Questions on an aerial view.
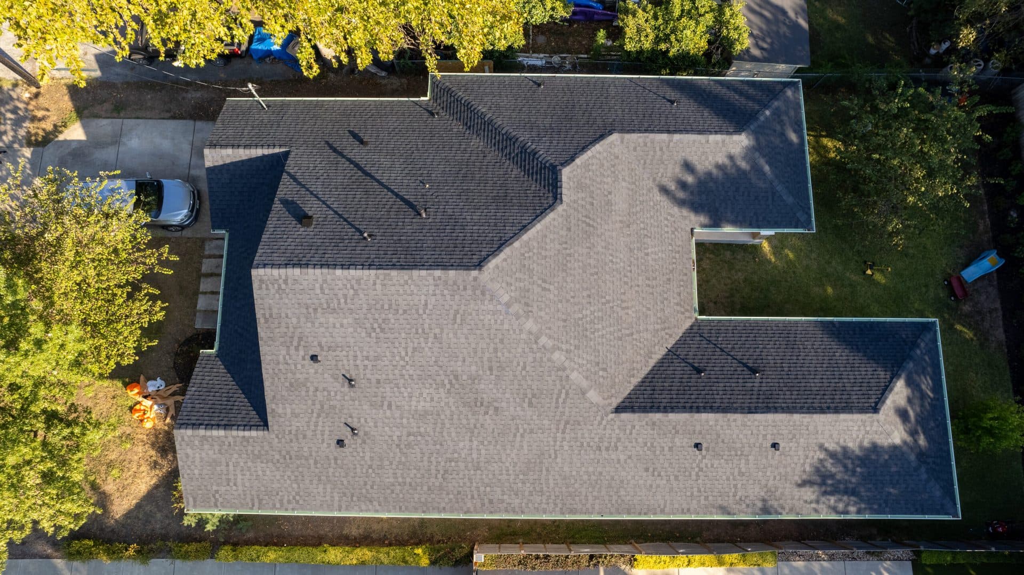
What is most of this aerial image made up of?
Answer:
buildings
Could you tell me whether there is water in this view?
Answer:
No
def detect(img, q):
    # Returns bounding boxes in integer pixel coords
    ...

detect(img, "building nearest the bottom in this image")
[172,70,965,523]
